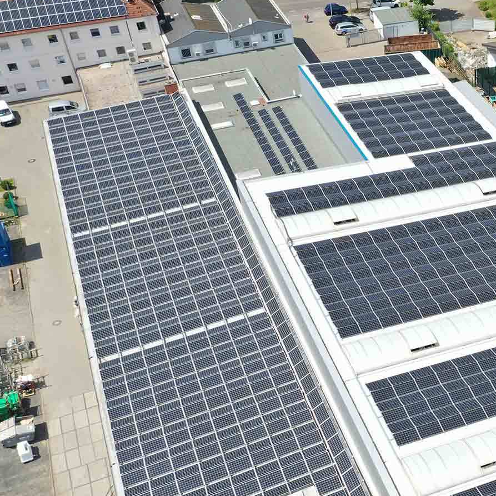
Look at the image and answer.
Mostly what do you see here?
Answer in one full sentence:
The scene is dominated by buildings.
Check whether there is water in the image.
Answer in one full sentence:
No, the picture contains no water.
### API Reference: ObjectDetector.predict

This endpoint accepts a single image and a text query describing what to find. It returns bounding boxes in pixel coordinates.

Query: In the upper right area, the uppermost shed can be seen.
[372,2,419,39]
